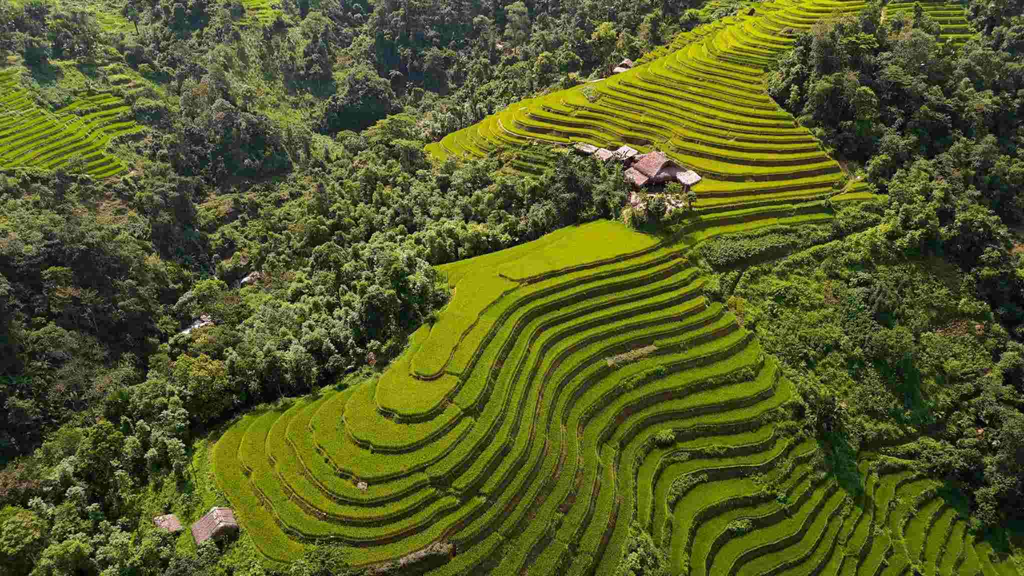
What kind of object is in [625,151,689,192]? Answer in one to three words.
house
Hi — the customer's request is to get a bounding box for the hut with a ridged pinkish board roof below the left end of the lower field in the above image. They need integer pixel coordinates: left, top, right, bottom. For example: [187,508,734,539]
[190,506,237,566]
